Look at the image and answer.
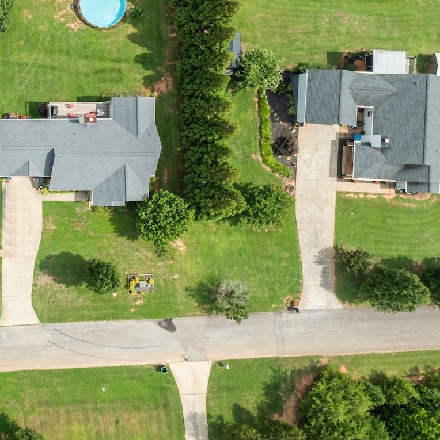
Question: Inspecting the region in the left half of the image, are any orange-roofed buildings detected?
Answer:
No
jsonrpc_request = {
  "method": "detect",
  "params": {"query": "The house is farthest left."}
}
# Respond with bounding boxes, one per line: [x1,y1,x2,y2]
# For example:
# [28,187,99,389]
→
[0,95,165,206]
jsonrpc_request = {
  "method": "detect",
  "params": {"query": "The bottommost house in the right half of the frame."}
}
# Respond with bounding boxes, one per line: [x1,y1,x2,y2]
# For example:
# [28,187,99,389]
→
[295,69,440,195]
